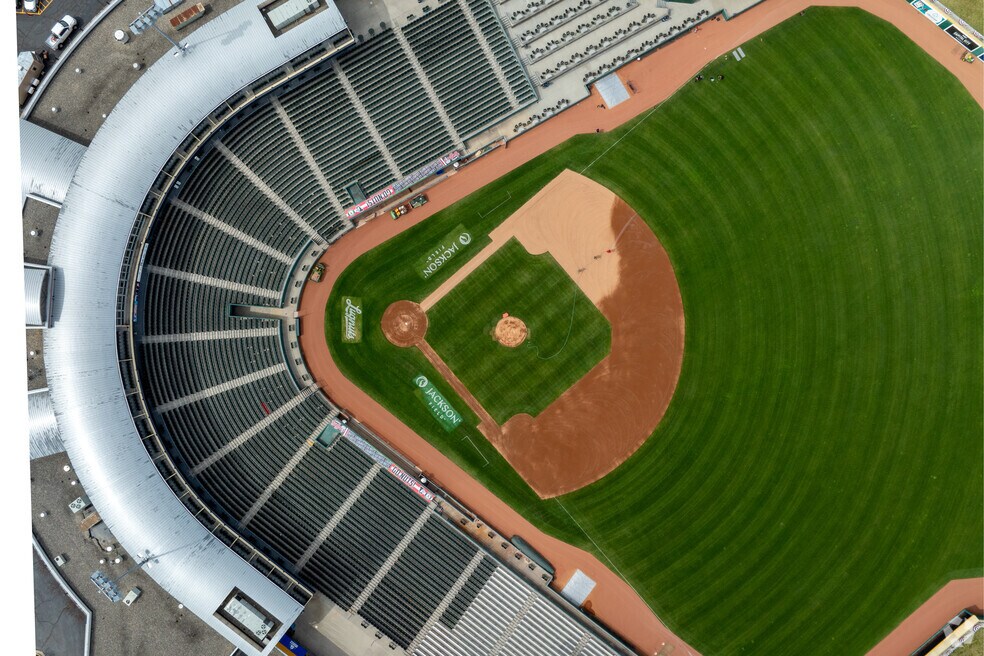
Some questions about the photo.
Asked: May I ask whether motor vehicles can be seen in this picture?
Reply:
Yes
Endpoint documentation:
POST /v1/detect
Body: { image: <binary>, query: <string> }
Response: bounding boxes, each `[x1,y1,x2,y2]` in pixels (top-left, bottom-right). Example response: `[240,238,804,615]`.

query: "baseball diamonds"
[300,0,984,656]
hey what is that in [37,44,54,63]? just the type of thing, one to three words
work vehicle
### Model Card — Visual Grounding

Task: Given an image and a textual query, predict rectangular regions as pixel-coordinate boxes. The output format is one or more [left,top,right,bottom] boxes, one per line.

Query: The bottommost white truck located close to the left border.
[44,16,80,53]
